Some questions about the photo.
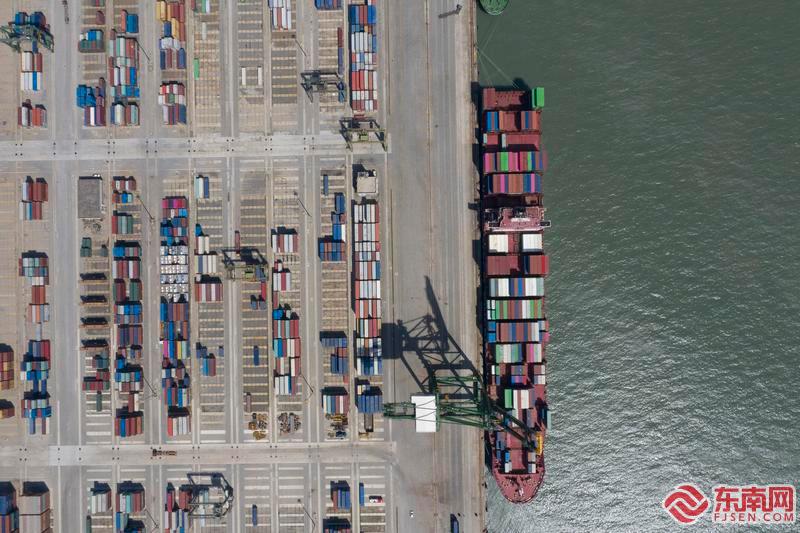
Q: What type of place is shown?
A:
port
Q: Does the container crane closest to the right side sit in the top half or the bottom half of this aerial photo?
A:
bottom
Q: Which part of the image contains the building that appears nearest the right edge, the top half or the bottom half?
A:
top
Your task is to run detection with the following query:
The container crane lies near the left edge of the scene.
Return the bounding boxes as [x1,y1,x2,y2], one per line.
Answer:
[0,26,54,55]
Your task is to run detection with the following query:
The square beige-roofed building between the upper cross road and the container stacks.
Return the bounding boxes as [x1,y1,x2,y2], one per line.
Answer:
[357,172,377,199]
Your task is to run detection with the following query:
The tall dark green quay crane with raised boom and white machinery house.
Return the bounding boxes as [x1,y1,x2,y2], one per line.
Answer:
[384,366,536,456]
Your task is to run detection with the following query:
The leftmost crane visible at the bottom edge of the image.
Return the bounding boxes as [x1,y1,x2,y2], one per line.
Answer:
[188,489,234,518]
